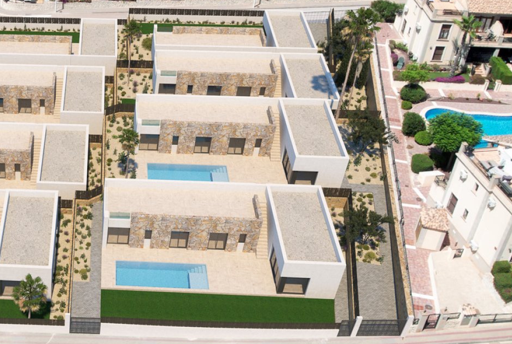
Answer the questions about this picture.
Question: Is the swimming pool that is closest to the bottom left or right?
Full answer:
The swimming pool that is closest to the bottom is on the left side of the image.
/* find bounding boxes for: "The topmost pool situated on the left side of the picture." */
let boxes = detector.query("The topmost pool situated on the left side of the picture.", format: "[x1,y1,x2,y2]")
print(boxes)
[149,160,234,184]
